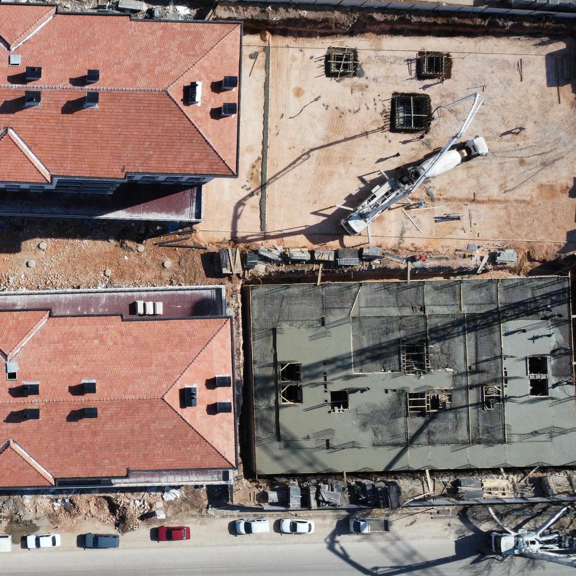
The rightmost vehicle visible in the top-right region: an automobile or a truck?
truck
